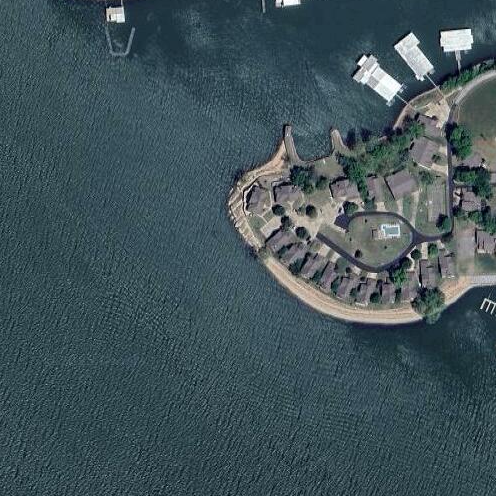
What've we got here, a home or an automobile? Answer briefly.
home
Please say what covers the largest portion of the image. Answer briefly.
water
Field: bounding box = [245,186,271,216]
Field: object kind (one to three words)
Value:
house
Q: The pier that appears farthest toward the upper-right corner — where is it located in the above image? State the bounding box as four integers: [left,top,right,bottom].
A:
[440,30,473,73]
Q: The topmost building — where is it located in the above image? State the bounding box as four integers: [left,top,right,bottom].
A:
[421,113,443,139]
